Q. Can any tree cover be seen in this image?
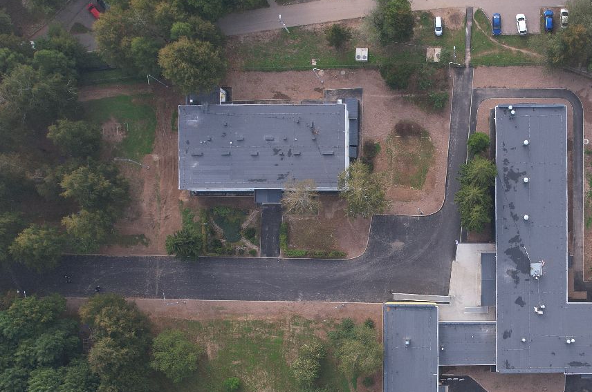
Yes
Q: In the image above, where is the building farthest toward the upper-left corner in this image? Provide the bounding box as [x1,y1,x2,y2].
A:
[178,86,360,204]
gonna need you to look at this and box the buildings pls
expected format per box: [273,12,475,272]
[383,302,448,392]
[481,105,592,378]
[178,86,360,204]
